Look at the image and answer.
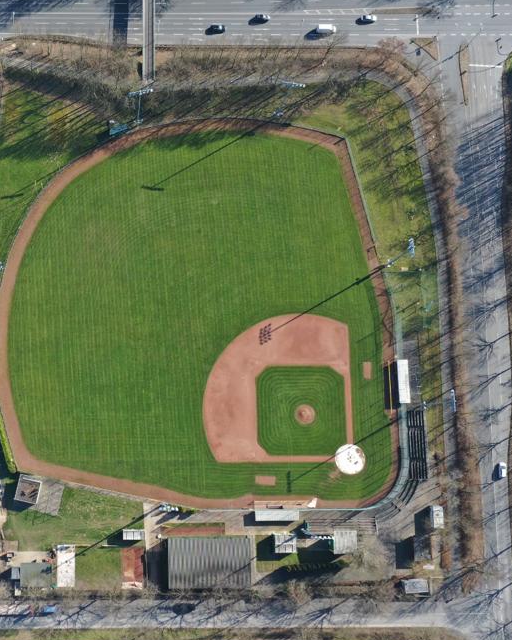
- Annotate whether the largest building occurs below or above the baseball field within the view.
below it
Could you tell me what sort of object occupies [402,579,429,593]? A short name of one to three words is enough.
shed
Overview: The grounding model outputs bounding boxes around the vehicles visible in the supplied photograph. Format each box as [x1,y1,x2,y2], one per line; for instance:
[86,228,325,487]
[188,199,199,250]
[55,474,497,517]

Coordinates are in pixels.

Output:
[361,14,375,21]
[40,605,56,613]
[317,23,335,33]
[254,14,268,21]
[496,462,506,478]
[211,25,224,32]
